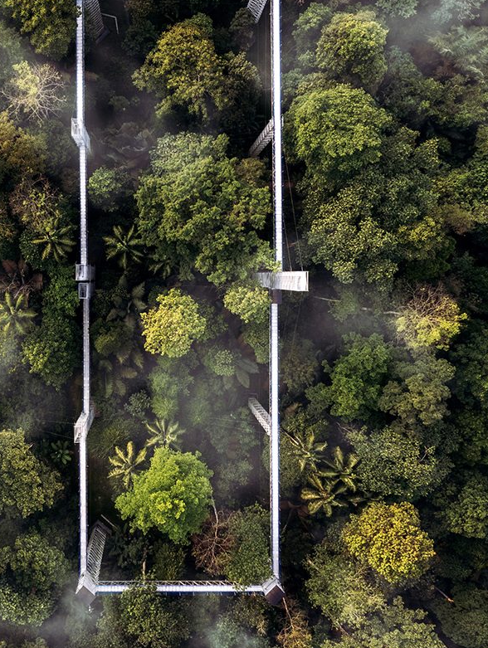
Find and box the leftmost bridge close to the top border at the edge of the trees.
[74,0,86,122]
